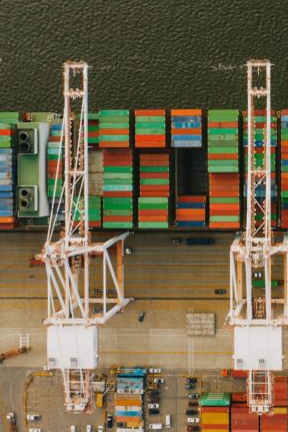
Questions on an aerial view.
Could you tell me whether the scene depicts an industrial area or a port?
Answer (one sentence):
The area seen from above is a port.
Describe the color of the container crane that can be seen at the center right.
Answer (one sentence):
In this view, the container crane that can be seen at the center right is white.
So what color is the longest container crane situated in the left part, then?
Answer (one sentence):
The color of the longest container crane situated in the left part is white.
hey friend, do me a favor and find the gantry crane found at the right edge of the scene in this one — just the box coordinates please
[228,61,288,415]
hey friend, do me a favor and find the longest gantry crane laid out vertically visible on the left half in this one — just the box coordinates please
[34,61,139,415]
